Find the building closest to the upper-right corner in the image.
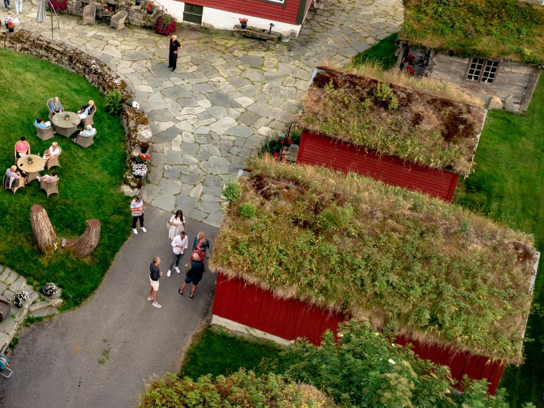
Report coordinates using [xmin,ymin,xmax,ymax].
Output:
[391,0,544,110]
